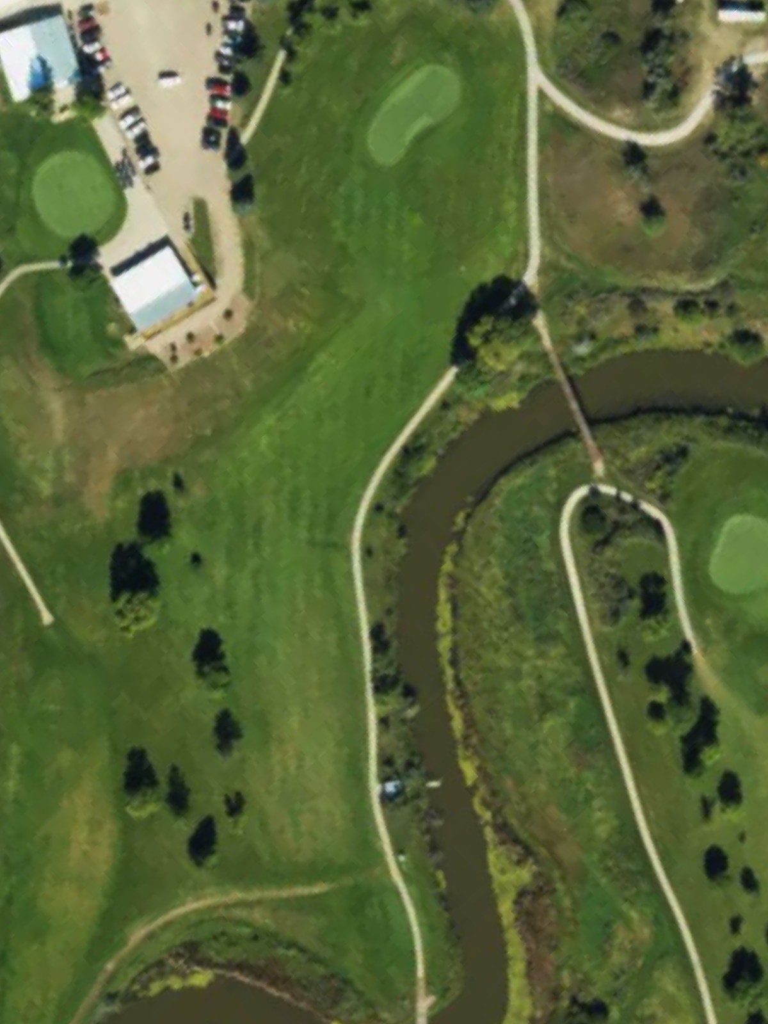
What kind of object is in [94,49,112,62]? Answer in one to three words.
vehicle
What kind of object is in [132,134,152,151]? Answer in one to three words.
car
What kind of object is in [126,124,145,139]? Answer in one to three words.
car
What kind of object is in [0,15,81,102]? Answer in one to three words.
building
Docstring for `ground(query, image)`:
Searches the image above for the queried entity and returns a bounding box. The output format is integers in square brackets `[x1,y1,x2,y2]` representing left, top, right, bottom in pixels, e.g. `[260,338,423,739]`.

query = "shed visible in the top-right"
[719,10,767,22]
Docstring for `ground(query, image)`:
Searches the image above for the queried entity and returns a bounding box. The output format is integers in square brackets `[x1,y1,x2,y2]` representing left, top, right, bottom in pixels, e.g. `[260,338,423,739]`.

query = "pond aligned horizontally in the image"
[104,973,329,1024]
